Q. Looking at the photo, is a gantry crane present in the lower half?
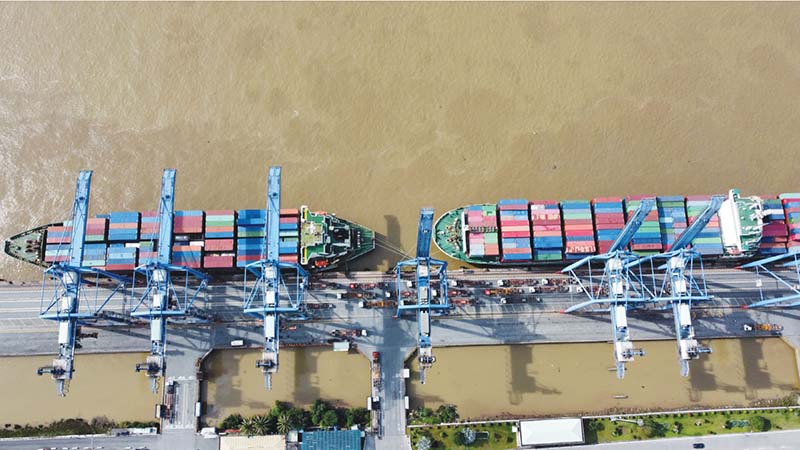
Yes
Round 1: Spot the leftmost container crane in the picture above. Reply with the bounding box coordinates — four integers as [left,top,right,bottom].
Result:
[28,168,144,397]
